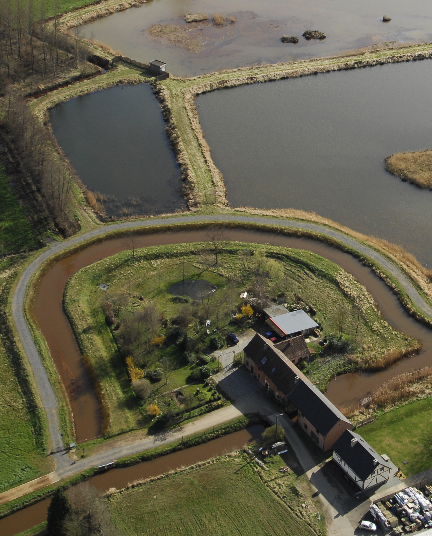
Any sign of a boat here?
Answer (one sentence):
No, no boat is visible in the scene.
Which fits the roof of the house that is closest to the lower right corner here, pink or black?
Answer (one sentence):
The color of the roof of the house that is closest to the lower right corner is black.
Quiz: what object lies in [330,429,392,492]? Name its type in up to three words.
house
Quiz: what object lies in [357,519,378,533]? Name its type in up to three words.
vehicle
